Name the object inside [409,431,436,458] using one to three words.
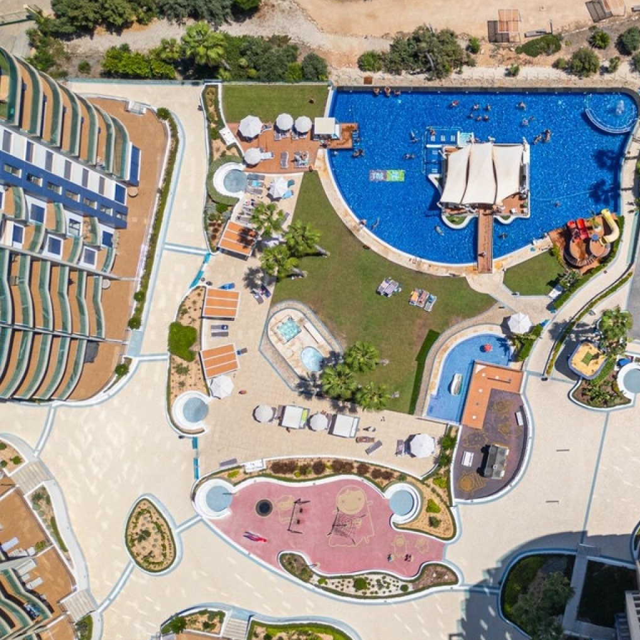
umbrella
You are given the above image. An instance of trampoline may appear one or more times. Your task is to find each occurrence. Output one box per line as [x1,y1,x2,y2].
[255,499,272,516]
